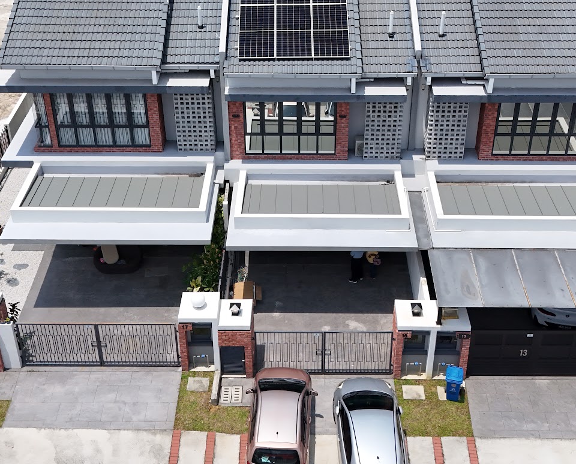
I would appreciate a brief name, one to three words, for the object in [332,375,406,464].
car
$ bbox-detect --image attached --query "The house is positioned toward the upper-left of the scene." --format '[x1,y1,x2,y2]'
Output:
[0,0,228,245]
